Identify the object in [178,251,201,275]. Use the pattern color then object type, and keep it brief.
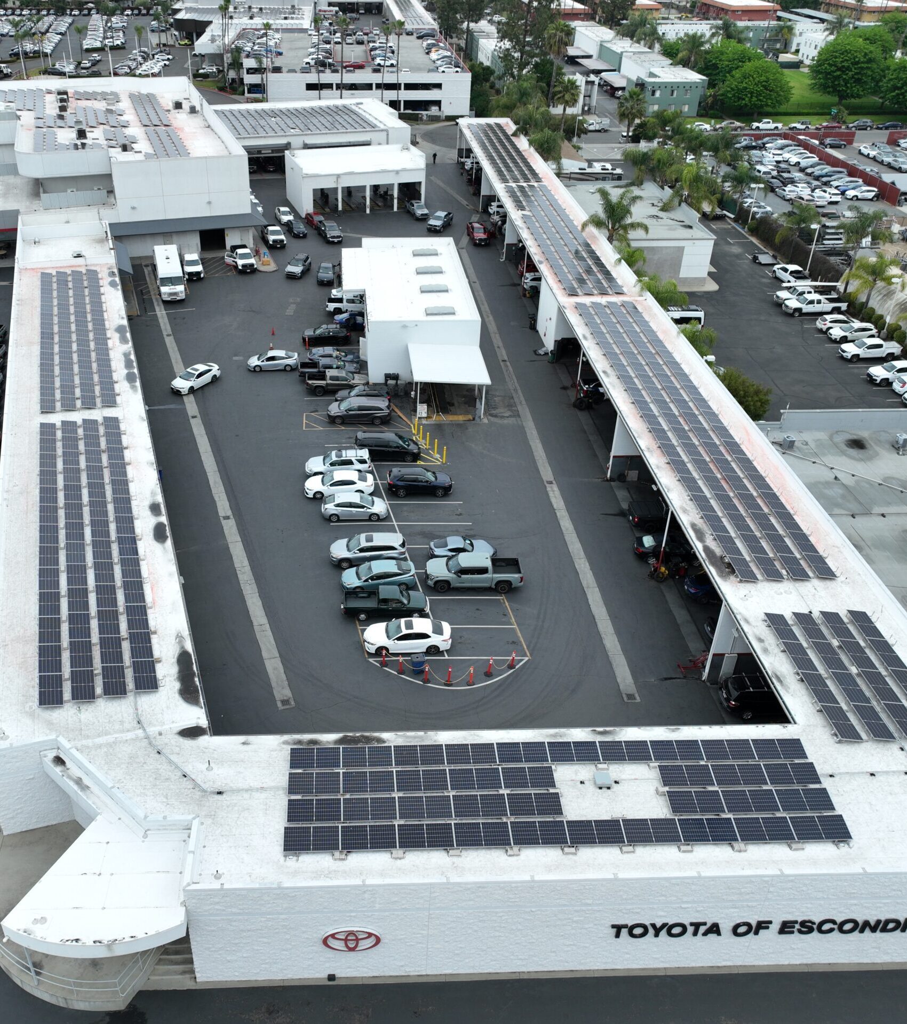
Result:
white truck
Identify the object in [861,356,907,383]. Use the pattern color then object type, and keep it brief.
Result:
white truck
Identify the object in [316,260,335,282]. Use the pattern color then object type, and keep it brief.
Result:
gray car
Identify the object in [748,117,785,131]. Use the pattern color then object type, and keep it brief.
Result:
white vehicle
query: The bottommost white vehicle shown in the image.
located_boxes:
[363,616,451,653]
